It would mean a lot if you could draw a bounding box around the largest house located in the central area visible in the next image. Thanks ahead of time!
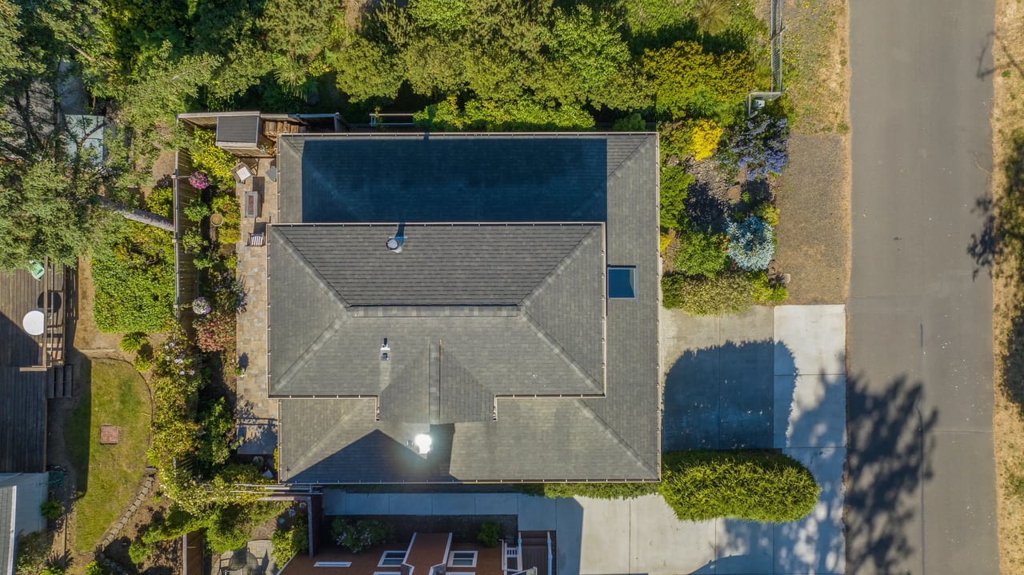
[267,134,659,483]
